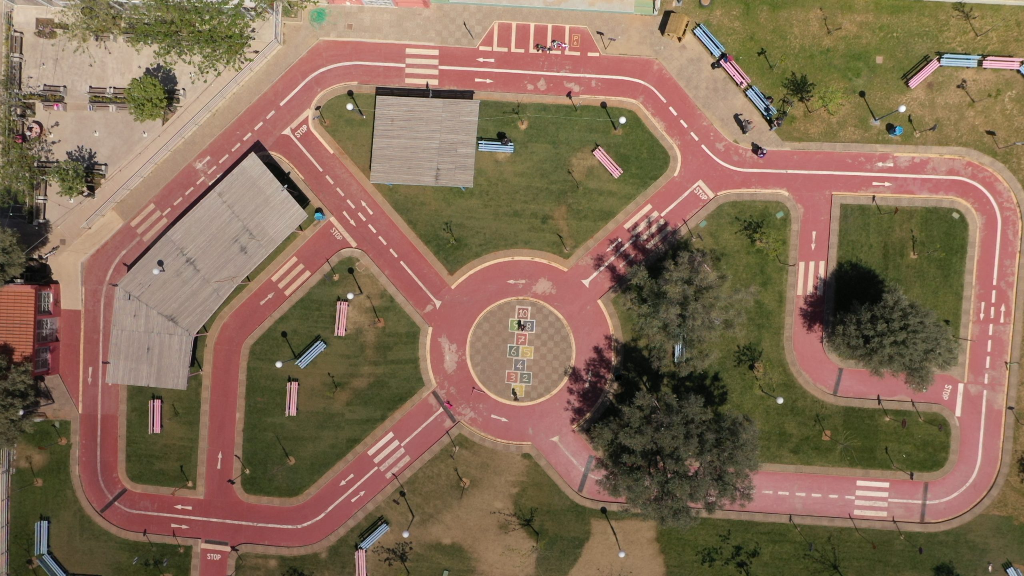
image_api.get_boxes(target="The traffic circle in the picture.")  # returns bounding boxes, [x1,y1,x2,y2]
[428,258,614,444]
